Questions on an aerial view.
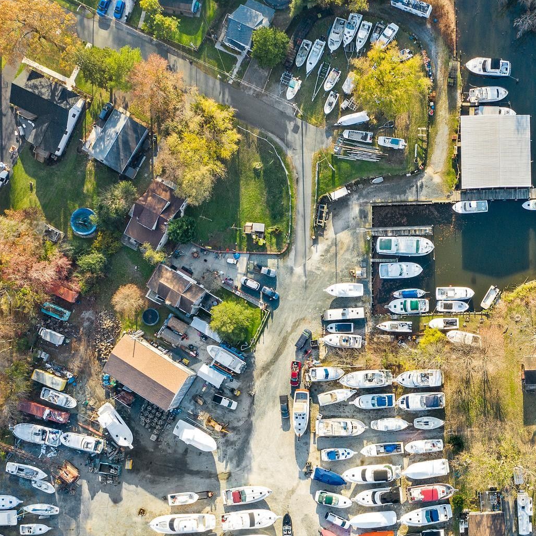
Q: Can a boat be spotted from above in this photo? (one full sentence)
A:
Yes, the photo shows a boat.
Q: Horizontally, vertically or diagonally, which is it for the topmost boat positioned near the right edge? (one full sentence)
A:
What the image shows is the topmost boat positioned near the right edge lying horizontally.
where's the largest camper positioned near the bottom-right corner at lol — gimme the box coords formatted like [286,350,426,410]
[516,492,532,534]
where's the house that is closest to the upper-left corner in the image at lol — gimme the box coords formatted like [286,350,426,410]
[9,68,89,159]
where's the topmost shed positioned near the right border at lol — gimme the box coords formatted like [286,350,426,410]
[460,113,531,192]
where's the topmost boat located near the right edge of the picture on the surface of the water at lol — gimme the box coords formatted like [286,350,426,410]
[465,57,513,78]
